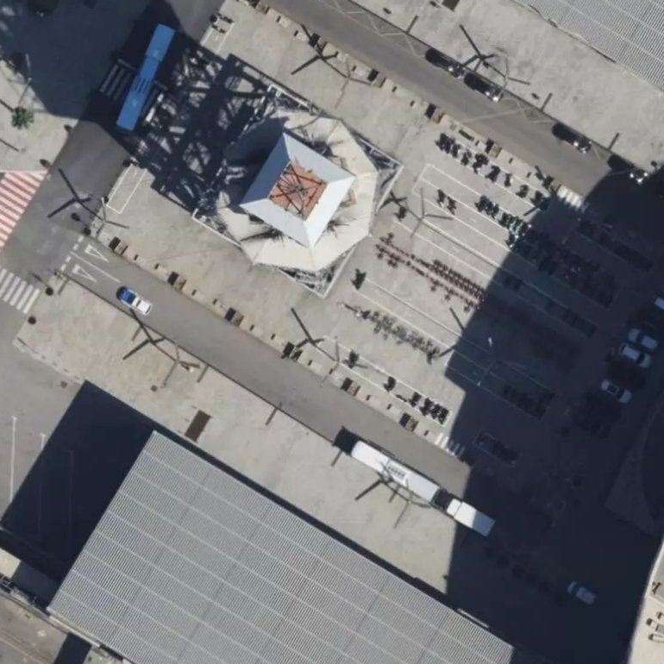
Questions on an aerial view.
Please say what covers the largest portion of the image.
paved ground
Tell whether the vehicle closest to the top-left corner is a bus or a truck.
bus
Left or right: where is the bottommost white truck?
right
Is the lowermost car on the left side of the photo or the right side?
right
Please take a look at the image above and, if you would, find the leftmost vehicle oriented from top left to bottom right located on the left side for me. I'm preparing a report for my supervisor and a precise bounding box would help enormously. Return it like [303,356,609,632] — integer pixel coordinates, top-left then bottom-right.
[117,286,153,315]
